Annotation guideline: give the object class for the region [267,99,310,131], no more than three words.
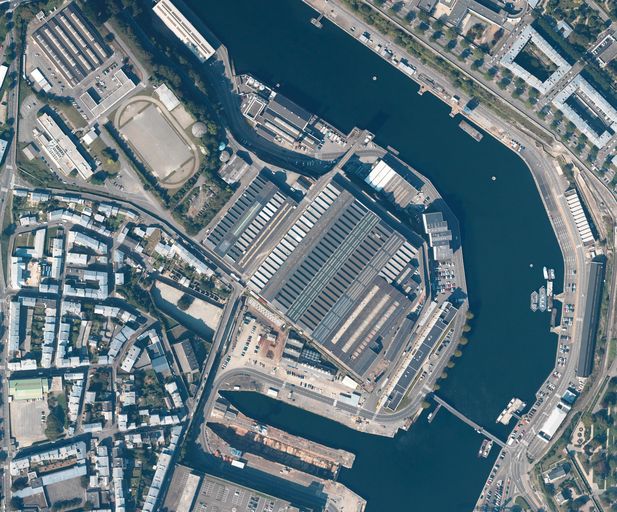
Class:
shed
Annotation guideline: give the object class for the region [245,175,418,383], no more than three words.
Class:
building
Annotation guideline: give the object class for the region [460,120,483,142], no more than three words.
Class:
ship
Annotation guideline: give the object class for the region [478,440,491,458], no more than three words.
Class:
ship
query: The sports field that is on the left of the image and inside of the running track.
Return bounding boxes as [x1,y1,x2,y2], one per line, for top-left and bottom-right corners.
[121,103,194,181]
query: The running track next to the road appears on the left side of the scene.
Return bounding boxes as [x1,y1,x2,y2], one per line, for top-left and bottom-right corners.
[112,92,202,191]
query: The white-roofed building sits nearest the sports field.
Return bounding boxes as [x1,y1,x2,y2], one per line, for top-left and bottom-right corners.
[154,83,180,111]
